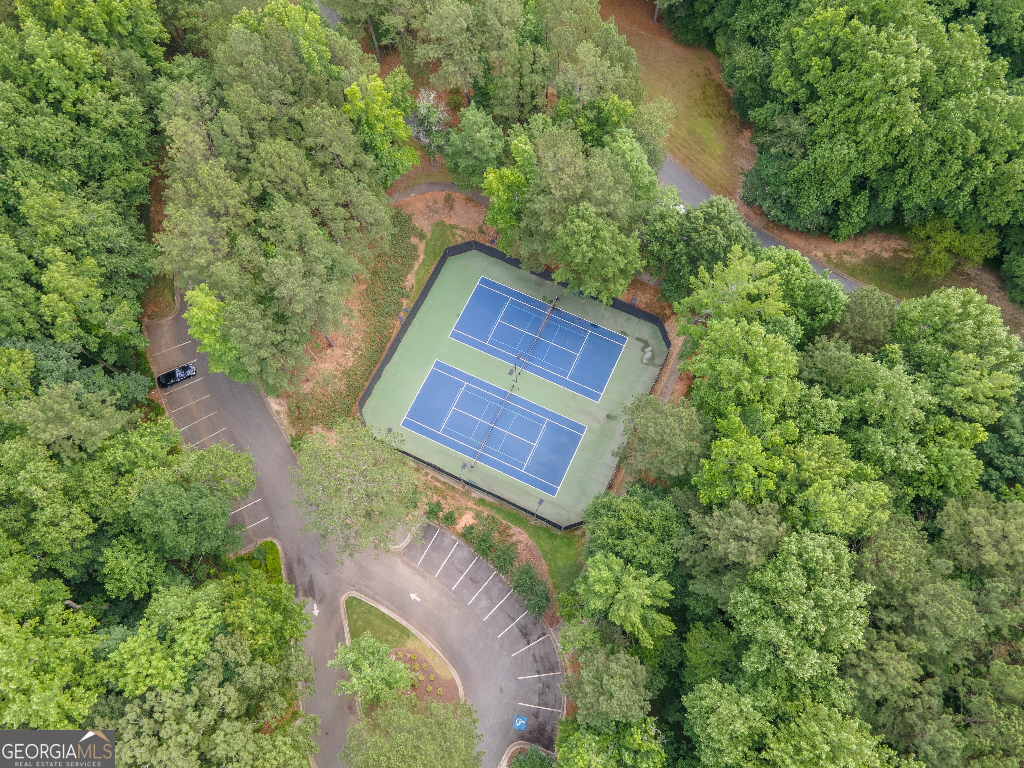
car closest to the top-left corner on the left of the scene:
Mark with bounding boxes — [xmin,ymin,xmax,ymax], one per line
[158,365,195,387]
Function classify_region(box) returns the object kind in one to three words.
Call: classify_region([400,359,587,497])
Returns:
tennis court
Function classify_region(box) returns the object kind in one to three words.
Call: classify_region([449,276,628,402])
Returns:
tennis court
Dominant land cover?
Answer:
trees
